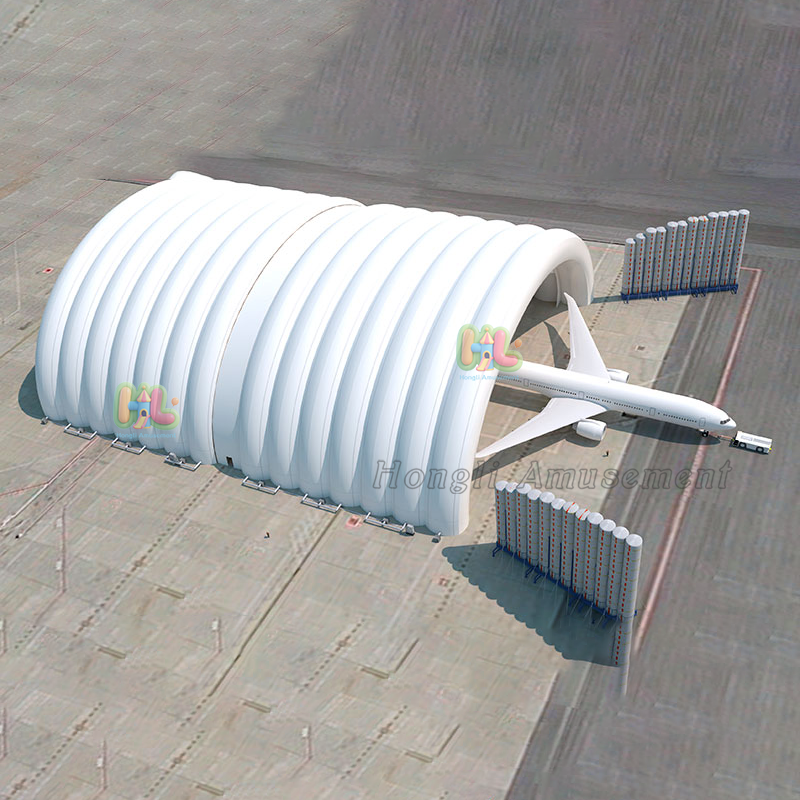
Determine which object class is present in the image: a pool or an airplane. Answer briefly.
airplane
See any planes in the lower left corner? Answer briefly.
No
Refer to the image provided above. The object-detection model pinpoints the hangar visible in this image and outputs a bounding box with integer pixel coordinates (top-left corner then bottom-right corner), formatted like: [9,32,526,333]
[36,171,592,535]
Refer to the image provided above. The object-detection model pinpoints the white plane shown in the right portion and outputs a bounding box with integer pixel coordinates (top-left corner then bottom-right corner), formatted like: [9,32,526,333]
[480,294,731,455]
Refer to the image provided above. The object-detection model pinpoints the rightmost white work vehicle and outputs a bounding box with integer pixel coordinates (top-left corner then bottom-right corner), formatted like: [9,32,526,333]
[734,432,773,454]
